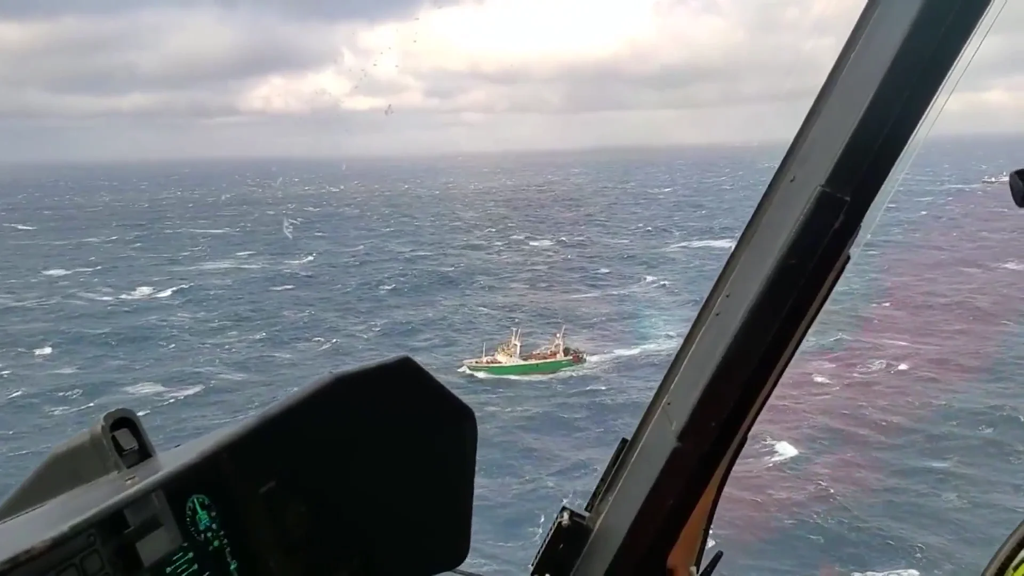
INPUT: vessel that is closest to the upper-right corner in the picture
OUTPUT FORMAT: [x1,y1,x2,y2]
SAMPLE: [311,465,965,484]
[979,169,1012,184]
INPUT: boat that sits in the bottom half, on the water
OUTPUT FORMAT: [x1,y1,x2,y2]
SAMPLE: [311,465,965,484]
[464,325,588,376]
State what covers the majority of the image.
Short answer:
water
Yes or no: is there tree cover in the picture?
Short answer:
No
